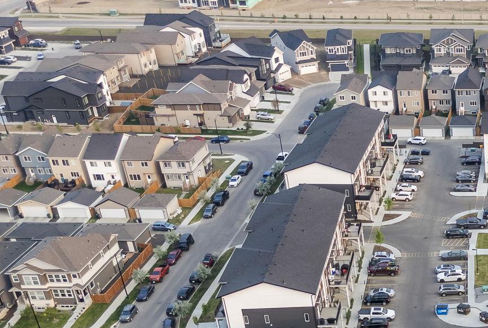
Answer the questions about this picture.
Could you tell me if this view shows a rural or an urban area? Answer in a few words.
urban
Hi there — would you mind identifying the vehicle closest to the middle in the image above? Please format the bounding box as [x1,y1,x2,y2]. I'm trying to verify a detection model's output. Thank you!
[238,159,252,172]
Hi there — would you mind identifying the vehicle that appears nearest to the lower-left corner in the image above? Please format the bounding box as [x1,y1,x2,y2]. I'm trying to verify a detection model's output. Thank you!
[117,301,138,320]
